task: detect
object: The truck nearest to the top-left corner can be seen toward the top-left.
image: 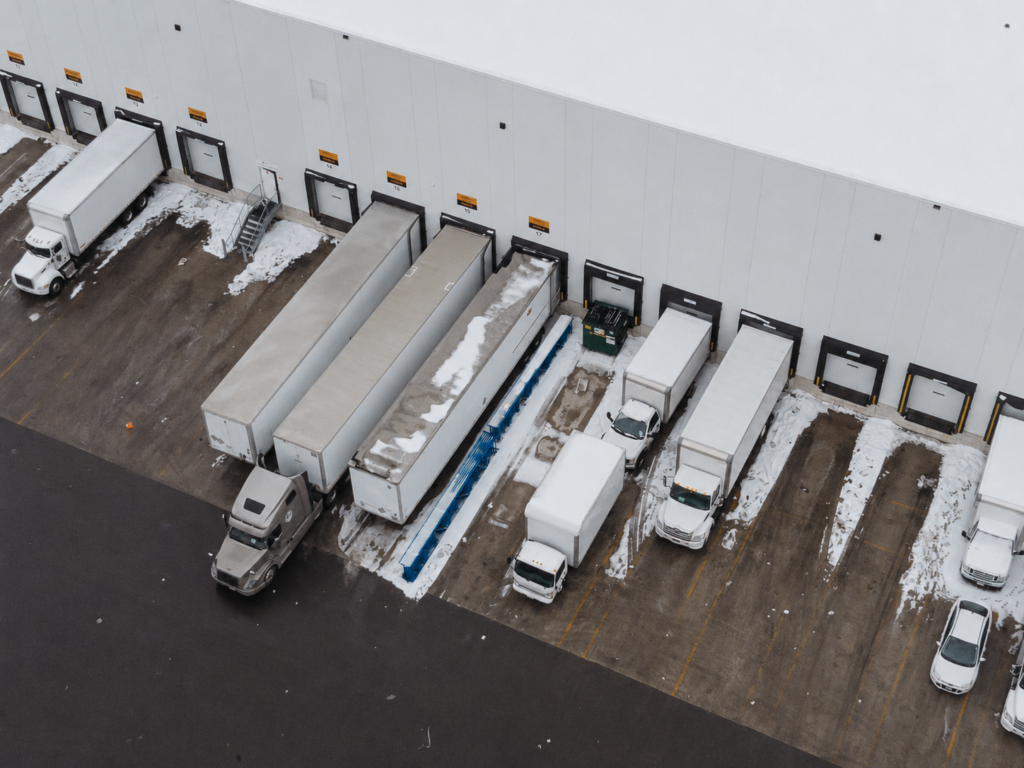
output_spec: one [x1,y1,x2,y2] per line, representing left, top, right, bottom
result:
[8,118,162,298]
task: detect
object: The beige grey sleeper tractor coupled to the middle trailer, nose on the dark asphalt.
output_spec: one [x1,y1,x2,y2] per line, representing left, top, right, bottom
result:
[215,452,351,598]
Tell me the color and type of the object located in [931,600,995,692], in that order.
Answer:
white car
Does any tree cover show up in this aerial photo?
No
